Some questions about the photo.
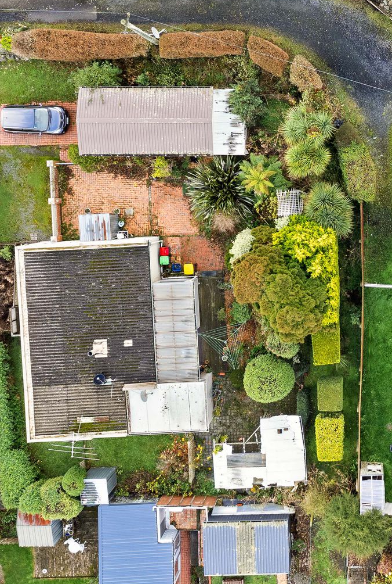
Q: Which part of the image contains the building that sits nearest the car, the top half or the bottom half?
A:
top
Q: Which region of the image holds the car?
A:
top left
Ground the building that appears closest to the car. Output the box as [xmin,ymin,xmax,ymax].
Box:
[76,86,216,157]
